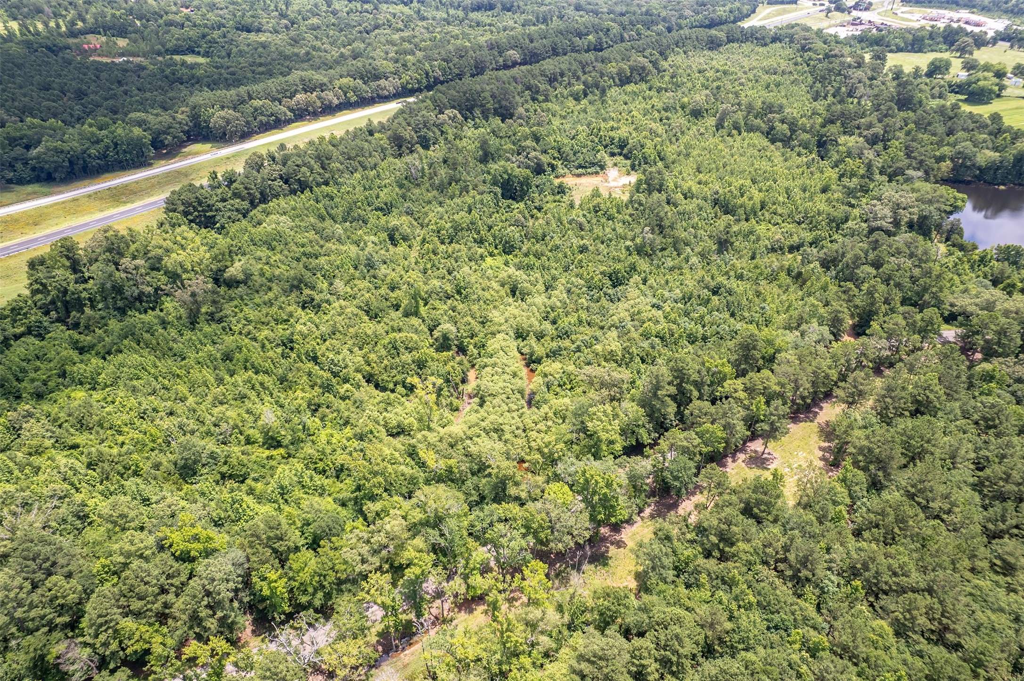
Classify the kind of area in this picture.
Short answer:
forest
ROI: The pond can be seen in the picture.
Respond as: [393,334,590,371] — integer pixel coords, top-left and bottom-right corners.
[920,185,1024,266]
